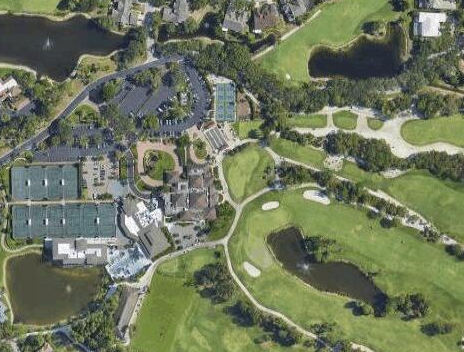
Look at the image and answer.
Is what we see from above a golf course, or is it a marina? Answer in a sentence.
The area seen from above is a golf course.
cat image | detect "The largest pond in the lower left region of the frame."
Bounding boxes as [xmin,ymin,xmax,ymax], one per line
[5,252,106,326]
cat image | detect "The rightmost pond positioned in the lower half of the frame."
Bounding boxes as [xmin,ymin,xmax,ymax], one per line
[266,227,387,310]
